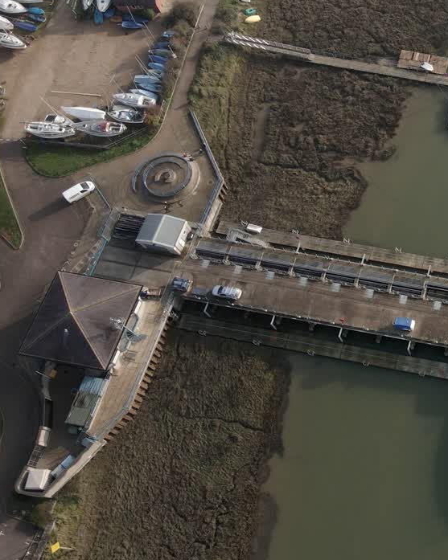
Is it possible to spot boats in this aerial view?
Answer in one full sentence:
Yes, a boat appears in the view.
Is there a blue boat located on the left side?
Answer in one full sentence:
Yes, the scene does show a blue boat on the left side.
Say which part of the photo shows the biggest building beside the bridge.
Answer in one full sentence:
You can find the biggest building beside the bridge in the left area of the picture.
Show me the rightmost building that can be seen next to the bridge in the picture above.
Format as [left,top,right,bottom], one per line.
[136,213,192,253]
